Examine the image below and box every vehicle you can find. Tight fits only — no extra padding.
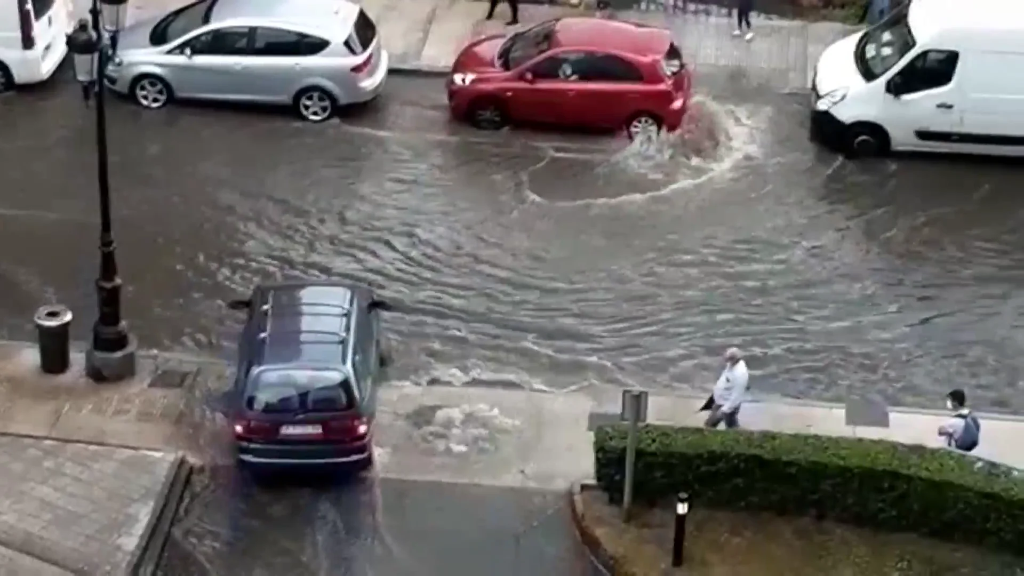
[229,279,397,469]
[0,0,72,89]
[108,0,386,120]
[817,0,1024,156]
[452,22,687,143]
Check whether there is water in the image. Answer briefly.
Yes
